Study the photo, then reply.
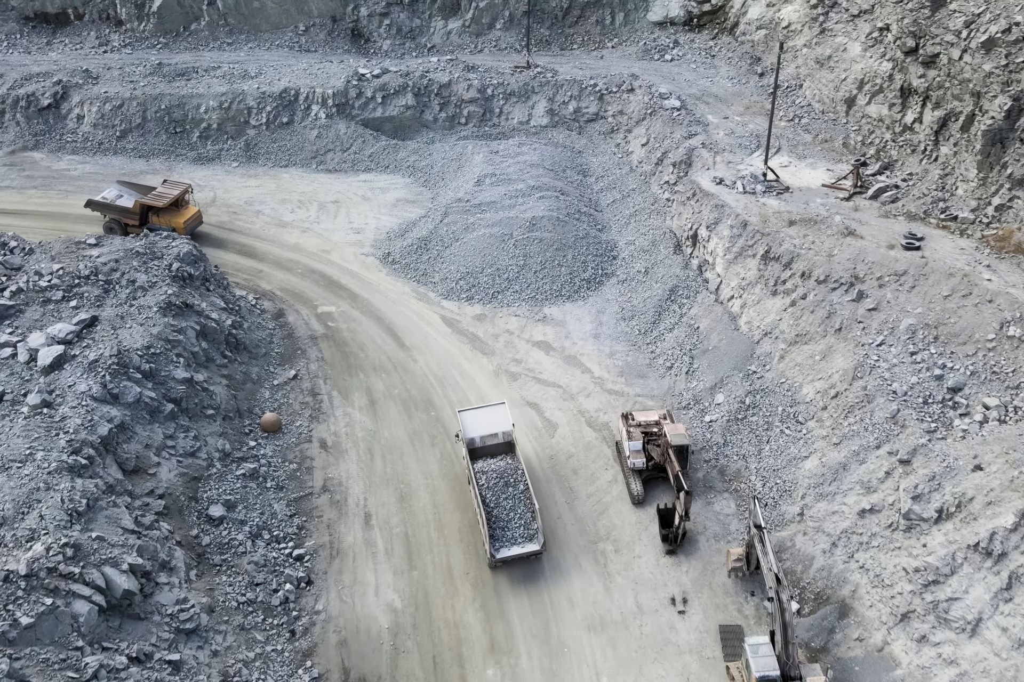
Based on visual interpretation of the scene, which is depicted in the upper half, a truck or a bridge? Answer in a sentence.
Looking in the upper half, you will find a truck.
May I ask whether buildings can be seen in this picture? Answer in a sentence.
No, the picture doesn't show any building.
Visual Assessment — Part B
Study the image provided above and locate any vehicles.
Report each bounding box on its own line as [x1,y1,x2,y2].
[77,179,207,246]
[720,494,828,682]
[447,404,546,572]
[612,413,697,544]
